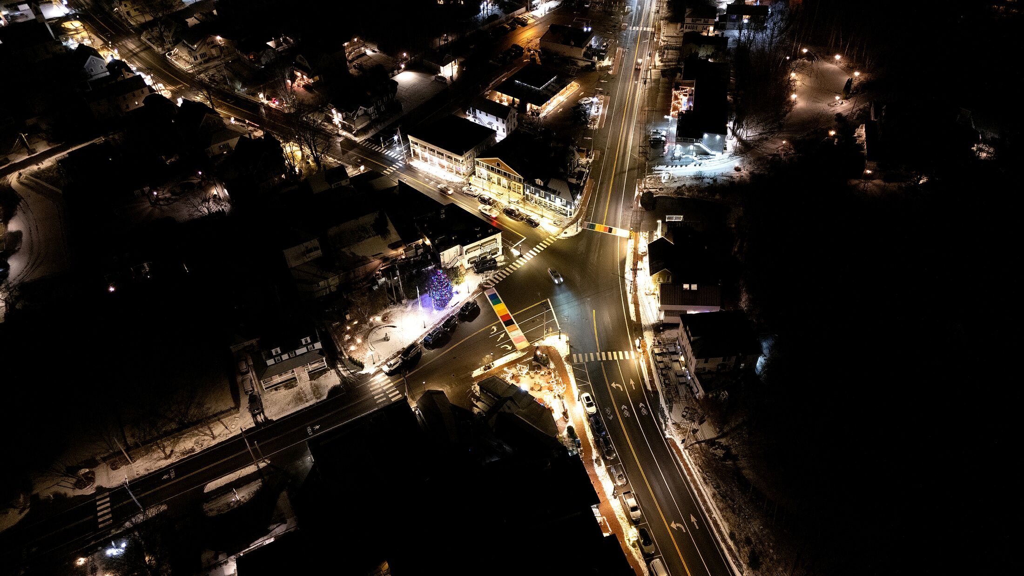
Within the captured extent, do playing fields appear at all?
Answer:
No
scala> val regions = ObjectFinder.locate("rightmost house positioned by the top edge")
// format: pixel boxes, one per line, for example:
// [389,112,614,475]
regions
[718,2,772,30]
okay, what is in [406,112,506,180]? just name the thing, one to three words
building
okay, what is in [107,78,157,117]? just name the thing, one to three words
house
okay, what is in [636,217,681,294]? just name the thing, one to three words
building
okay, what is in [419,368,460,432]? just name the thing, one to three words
barn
